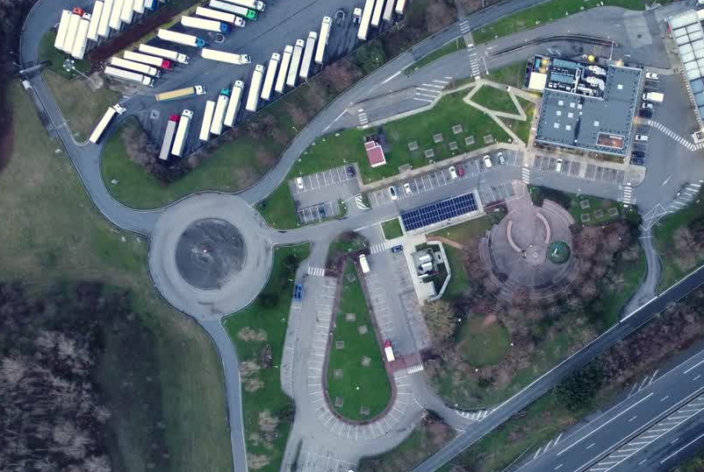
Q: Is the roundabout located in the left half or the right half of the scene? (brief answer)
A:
left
